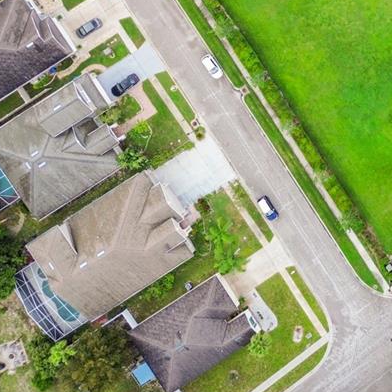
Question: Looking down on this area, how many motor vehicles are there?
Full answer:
Altogether the scene contains 4 motor vehicles.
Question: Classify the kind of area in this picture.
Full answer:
It's a residential area.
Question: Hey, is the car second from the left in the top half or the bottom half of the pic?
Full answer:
The car second from the left is in the top half of the image.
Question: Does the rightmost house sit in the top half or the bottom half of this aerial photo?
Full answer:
The rightmost house sits in the bottom half of the picture.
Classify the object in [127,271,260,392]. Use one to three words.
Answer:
house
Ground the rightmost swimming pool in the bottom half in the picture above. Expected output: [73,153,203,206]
[42,281,79,322]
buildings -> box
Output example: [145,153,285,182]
[0,73,124,222]
[25,170,198,323]
[0,0,76,101]
[127,271,260,392]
